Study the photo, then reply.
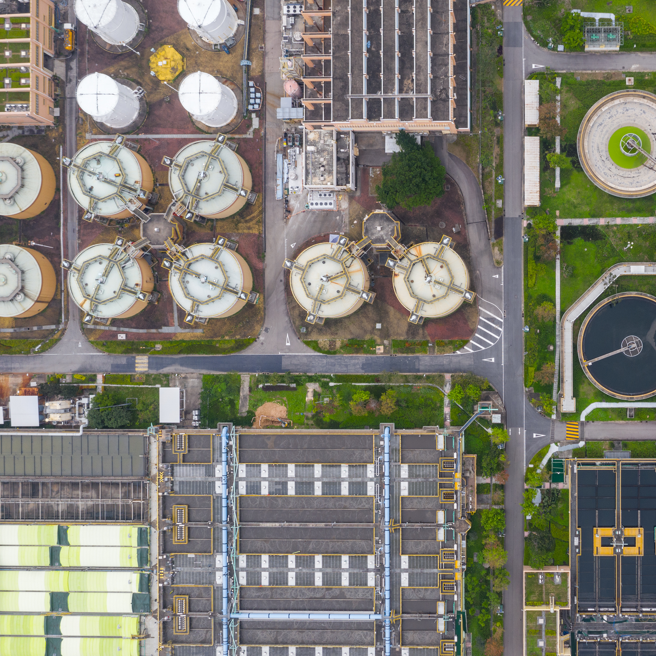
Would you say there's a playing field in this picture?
No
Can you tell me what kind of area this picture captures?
industrial area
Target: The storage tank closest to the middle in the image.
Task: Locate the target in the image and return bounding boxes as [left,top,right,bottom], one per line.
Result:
[281,235,372,324]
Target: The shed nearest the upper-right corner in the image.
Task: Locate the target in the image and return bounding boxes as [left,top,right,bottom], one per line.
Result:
[525,80,540,126]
